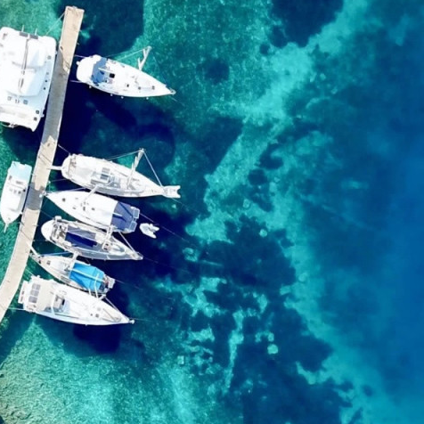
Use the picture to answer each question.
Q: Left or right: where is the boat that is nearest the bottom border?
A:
left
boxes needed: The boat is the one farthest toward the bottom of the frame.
[1,275,141,329]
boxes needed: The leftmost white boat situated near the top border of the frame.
[0,13,65,138]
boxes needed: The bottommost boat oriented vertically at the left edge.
[1,161,36,233]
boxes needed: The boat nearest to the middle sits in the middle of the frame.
[164,186,180,198]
